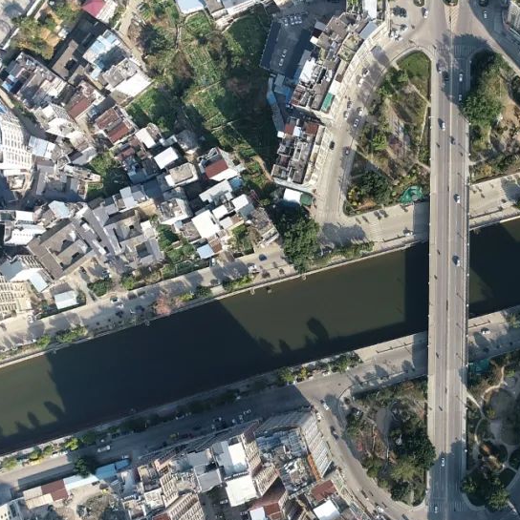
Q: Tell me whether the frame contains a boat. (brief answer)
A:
No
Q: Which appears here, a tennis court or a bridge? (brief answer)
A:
bridge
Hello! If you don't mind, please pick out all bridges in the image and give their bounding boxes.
[427,67,471,465]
